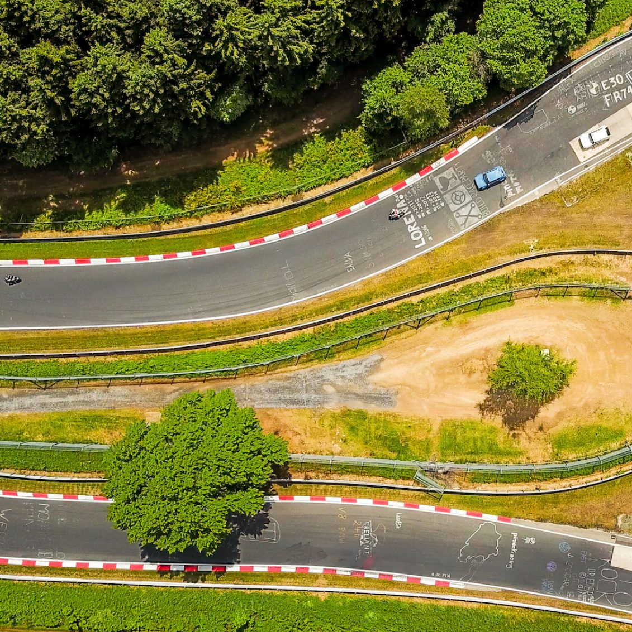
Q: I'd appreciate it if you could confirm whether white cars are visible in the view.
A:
Yes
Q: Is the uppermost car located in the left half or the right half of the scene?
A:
right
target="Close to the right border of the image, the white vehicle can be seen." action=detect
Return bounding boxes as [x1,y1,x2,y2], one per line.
[577,126,612,150]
